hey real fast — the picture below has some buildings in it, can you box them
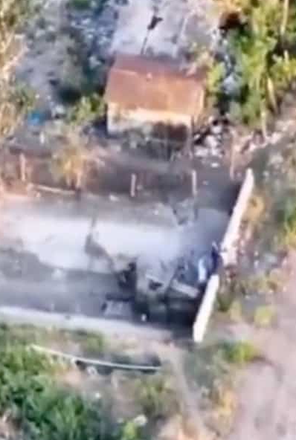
[94,0,222,62]
[104,64,205,146]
